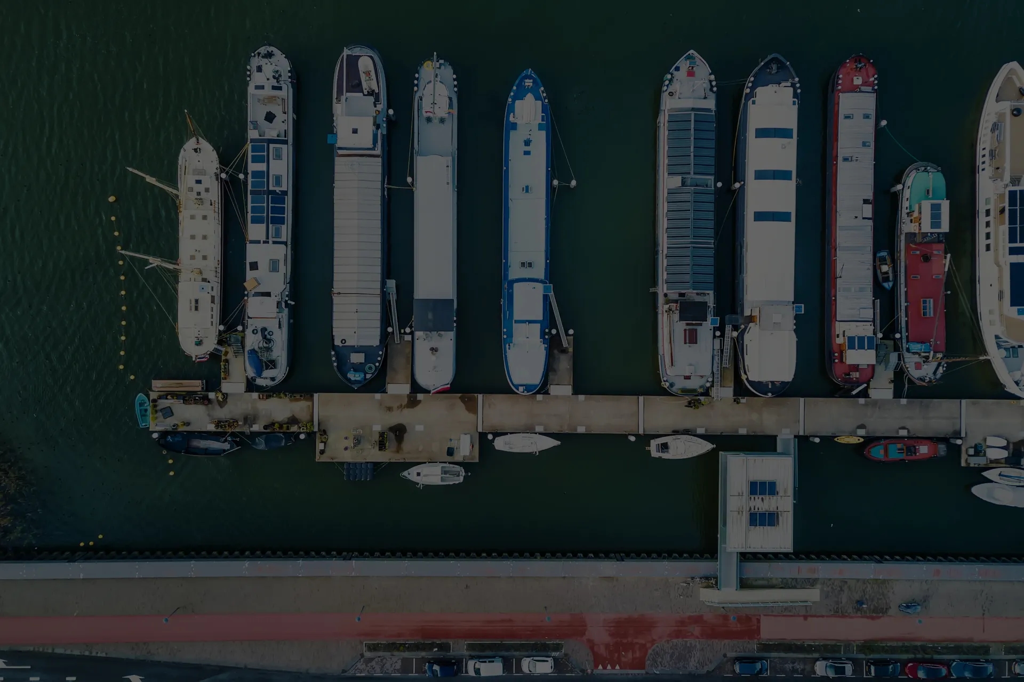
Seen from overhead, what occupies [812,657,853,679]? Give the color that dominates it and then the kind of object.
black car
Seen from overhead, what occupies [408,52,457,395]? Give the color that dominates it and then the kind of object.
gray ship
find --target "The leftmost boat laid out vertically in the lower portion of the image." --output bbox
[136,393,150,427]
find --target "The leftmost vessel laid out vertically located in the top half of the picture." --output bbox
[118,109,239,360]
